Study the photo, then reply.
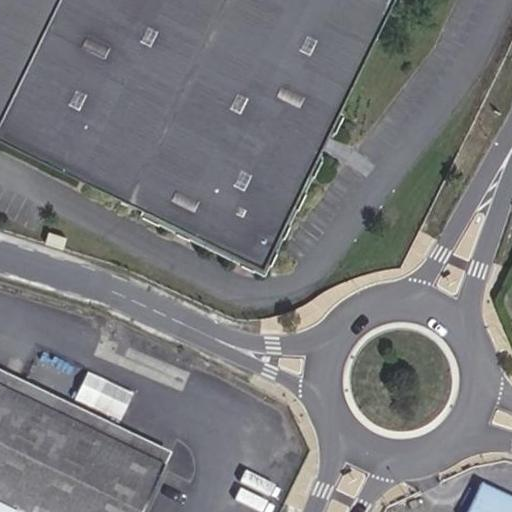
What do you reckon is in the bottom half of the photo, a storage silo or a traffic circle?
traffic circle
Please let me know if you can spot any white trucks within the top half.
No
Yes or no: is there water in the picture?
No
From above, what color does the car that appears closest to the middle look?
black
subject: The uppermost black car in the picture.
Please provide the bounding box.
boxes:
[350,314,370,334]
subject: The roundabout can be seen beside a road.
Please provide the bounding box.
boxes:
[300,280,504,482]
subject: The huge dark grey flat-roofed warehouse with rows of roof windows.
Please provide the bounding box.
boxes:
[0,0,398,276]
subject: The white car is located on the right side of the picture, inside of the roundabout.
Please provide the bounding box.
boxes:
[428,318,448,336]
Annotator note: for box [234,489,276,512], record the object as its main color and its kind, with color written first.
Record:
white truck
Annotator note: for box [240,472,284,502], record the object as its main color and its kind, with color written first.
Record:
white truck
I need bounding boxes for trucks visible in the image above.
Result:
[234,489,276,512]
[240,472,284,502]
